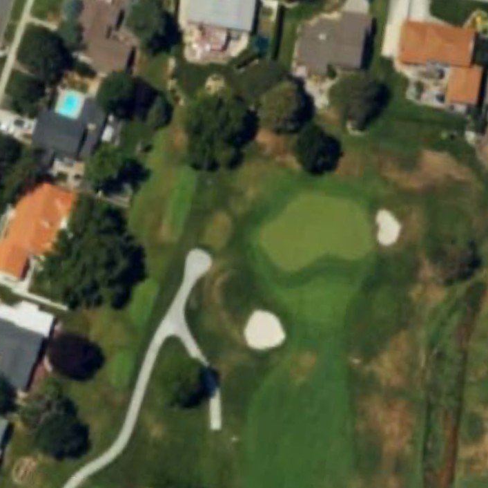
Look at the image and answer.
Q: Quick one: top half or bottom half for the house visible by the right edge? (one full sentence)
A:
Seen from above, the house visible by the right edge lies in the top half of the view.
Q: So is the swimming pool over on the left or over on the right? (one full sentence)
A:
You can find the swimming pool on the left side of the picture.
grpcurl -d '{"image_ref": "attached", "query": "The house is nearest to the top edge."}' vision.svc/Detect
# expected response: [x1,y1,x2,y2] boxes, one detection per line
[182,0,258,31]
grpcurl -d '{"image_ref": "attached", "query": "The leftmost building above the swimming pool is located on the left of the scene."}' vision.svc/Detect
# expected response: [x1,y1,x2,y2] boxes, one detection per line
[69,0,136,77]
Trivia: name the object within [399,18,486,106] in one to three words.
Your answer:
house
